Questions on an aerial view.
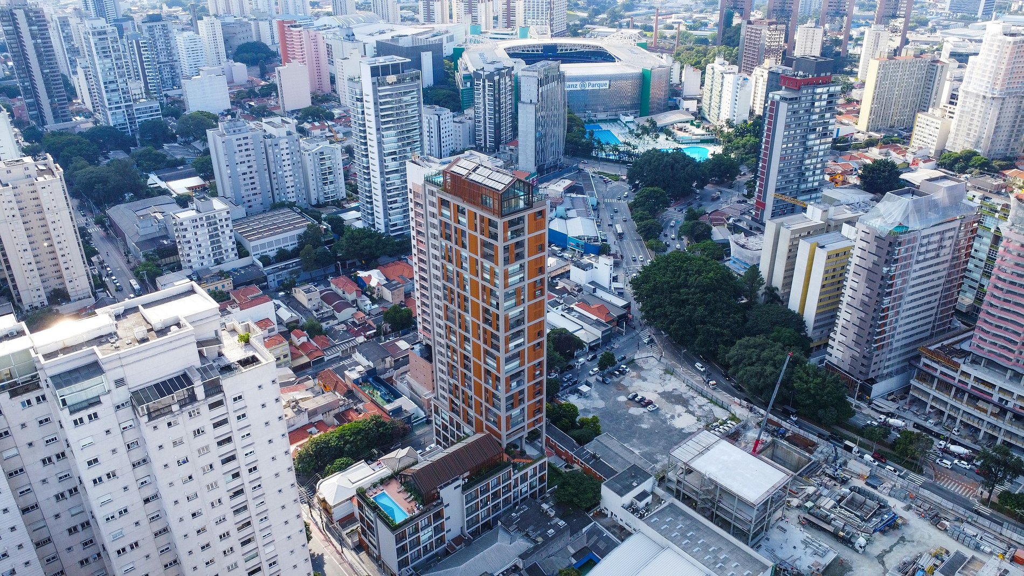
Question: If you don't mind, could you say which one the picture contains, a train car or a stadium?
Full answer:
This aerial view contains a stadium.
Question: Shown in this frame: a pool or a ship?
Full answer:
Visible in the photo is a pool.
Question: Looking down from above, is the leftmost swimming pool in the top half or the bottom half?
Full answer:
The leftmost swimming pool sits in the bottom half of the picture.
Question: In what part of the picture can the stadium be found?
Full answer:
The stadium sits in the top section of the image.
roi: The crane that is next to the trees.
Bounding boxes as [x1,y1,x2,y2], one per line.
[752,350,797,459]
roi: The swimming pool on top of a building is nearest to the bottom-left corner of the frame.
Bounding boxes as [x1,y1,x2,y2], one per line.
[371,492,410,525]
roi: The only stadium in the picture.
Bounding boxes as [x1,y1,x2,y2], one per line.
[458,23,685,118]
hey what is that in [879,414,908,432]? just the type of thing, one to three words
vehicle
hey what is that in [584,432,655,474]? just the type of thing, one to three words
building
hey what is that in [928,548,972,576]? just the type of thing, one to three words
building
